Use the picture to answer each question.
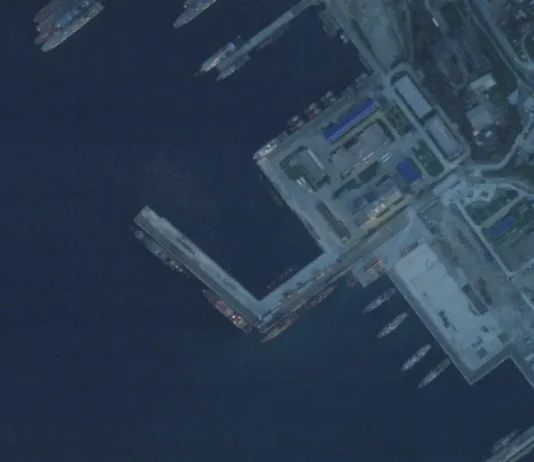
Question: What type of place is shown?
port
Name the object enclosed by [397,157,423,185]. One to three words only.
building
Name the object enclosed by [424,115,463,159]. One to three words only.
building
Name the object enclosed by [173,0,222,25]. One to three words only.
ship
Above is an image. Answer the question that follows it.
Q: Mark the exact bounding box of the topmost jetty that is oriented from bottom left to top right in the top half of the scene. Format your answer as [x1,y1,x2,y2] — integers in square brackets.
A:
[216,0,319,72]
